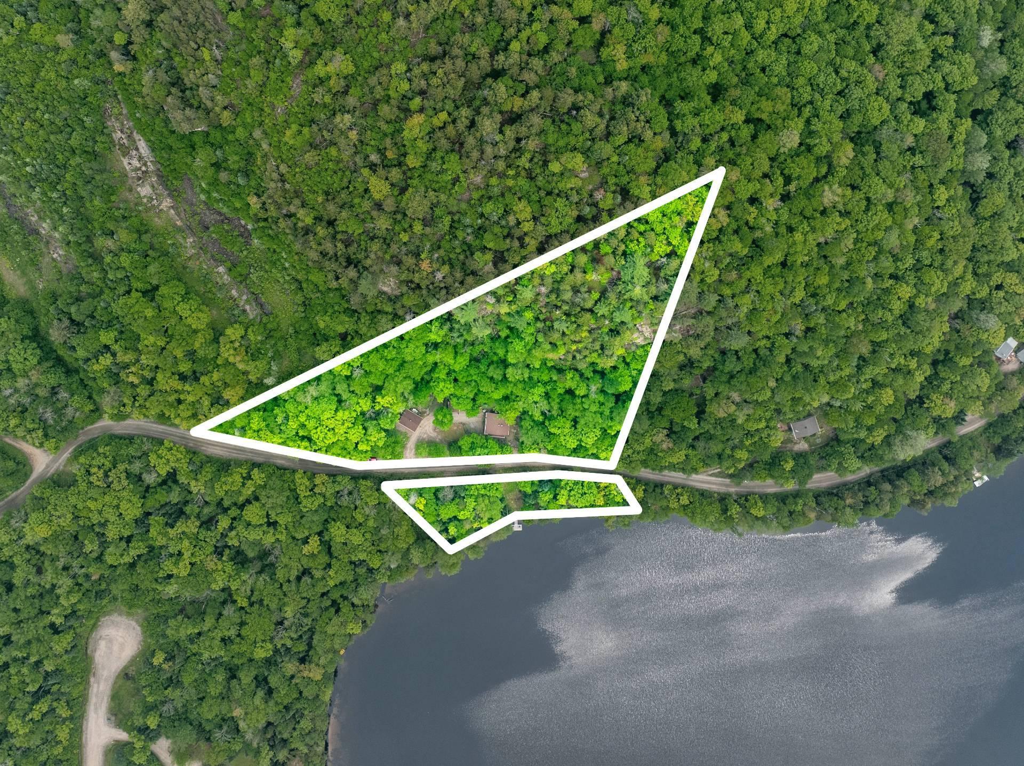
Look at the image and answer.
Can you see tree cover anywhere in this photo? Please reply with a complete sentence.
Yes, tree cover can be seen from above here.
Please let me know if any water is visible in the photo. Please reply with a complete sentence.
Yes, water shows up in the scene.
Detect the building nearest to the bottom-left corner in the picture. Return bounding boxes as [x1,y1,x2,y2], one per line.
[399,409,423,432]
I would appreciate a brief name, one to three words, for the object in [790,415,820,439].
house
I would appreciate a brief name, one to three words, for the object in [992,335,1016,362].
house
